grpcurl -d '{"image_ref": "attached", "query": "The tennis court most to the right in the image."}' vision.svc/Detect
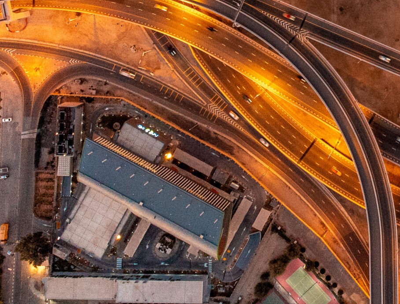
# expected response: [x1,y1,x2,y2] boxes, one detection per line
[274,258,339,304]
